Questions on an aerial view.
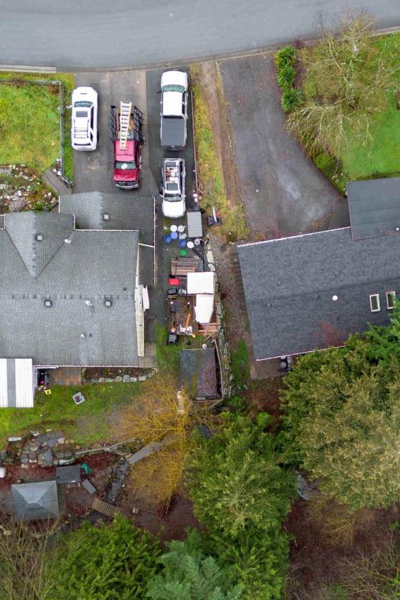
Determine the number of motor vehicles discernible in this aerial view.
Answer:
four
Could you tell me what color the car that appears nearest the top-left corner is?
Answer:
white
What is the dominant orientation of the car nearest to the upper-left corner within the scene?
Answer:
from top to bottom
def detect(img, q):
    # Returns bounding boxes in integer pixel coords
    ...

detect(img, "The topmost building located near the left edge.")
[0,192,159,368]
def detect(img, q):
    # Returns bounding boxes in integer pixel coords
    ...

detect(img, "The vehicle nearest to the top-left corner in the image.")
[69,88,102,151]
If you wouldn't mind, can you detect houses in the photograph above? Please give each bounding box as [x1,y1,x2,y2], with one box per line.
[0,192,159,368]
[237,176,400,362]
